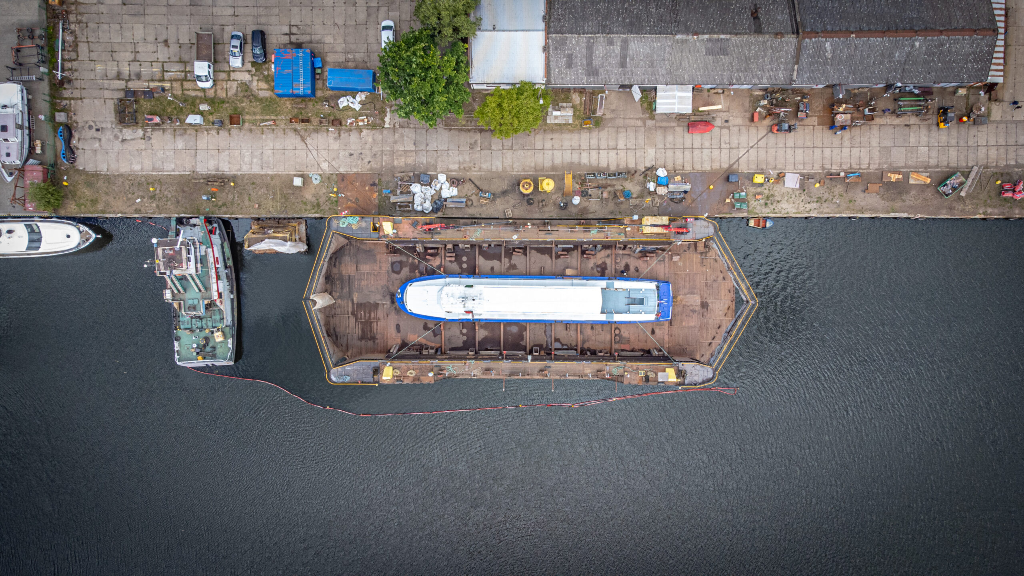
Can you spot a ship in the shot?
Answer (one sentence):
Yes, the photo shows a ship.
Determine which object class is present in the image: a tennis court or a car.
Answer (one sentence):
This aerial view contains a car.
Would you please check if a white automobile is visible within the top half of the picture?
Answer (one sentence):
Yes, within the top half of the picture there is a white automobile.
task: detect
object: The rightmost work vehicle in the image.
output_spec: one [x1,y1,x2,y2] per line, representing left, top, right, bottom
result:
[935,102,957,129]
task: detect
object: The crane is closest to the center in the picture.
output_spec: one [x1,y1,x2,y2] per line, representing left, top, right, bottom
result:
[409,217,534,237]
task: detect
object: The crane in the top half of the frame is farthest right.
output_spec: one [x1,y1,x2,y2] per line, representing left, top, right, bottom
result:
[570,222,701,236]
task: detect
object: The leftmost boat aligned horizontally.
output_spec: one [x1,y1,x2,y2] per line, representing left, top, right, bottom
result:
[0,218,102,258]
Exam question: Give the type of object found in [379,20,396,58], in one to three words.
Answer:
car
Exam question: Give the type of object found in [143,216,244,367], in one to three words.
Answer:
ship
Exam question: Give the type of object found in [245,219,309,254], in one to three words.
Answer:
pier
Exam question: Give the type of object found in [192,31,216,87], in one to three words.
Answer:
truck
